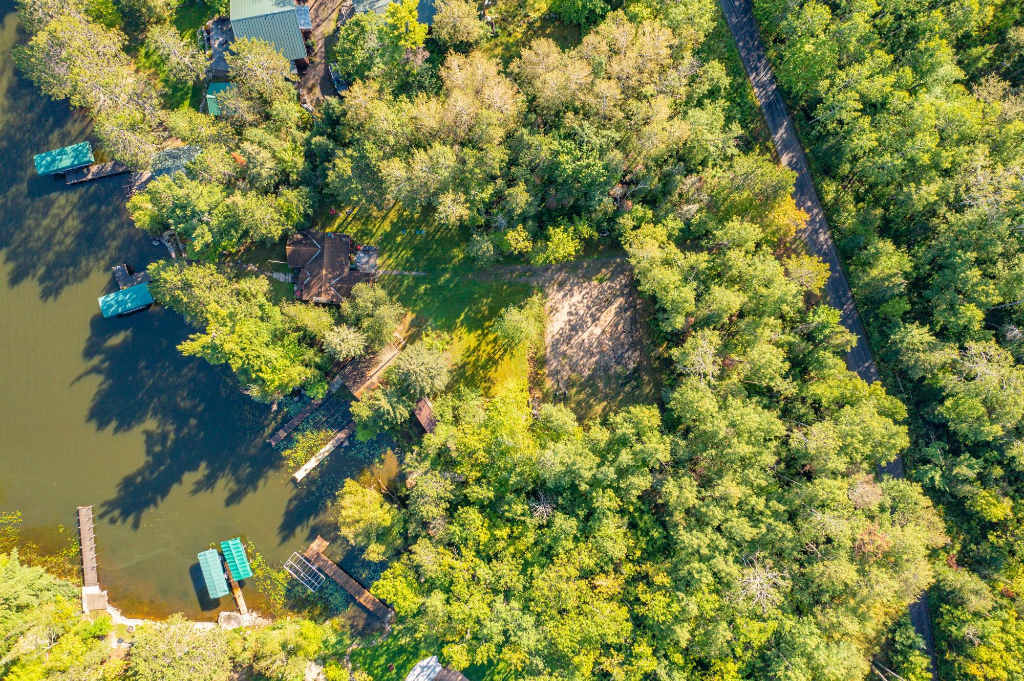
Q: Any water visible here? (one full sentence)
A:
Yes, water shows up in the scene.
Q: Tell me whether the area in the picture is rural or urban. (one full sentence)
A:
The area shown here is rural.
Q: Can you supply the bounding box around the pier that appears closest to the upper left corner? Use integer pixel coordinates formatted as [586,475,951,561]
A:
[65,162,130,185]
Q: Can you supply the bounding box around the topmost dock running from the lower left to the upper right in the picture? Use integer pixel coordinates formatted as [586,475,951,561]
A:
[268,392,333,447]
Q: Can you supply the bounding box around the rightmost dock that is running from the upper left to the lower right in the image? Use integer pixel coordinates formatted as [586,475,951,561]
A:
[302,535,393,622]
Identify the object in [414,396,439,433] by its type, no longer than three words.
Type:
shed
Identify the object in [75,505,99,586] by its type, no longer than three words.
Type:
pier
